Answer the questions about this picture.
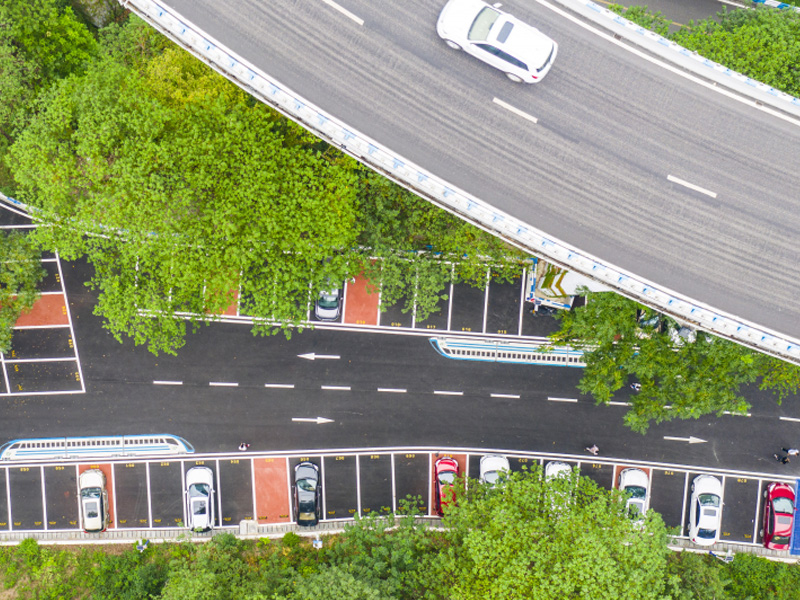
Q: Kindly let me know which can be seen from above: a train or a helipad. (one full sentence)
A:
Visible in the photo is a train.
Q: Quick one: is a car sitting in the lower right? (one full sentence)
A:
Yes, the scene does show a car in the lower right.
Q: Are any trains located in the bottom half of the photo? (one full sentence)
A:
Yes, the scene does show a train in the bottom half of the photo.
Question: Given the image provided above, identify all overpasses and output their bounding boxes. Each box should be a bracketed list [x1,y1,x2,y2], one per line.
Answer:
[119,0,800,367]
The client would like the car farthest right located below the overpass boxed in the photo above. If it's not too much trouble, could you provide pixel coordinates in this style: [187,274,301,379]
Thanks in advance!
[758,481,798,550]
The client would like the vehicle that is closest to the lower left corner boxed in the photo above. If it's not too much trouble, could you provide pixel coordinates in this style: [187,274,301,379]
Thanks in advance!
[73,466,111,532]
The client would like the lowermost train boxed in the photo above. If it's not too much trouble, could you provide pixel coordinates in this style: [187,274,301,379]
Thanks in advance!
[0,430,194,462]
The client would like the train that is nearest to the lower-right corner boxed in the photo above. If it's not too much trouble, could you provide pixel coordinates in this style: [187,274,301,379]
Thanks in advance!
[430,338,617,374]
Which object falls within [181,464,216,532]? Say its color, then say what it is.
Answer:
white car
